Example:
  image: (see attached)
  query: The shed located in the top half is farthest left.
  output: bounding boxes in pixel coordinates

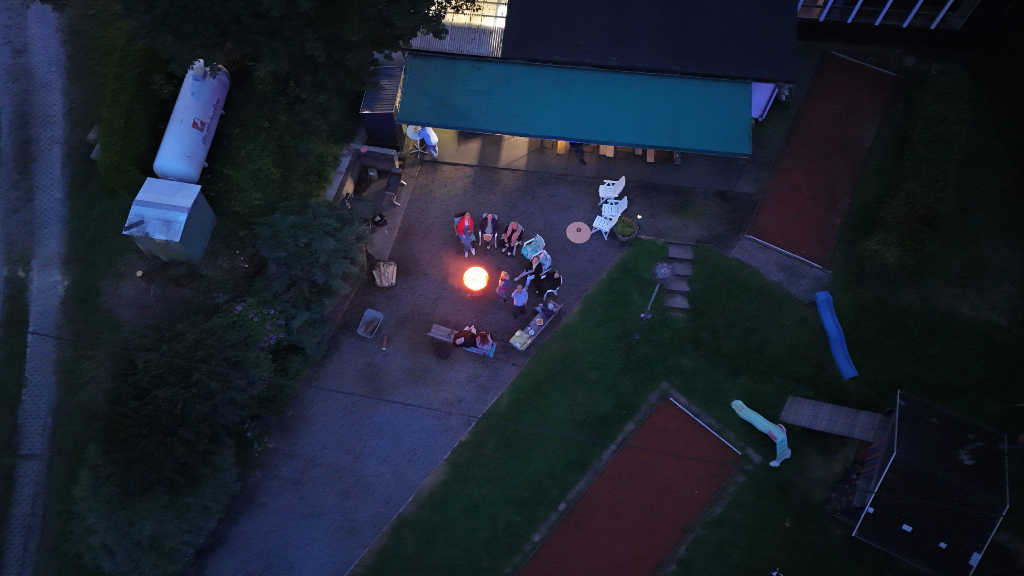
[123,177,221,267]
